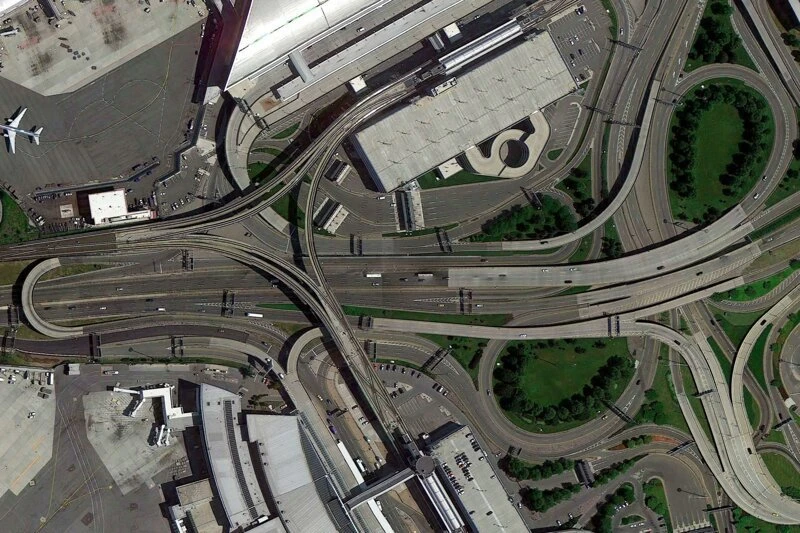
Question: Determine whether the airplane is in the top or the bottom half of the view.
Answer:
top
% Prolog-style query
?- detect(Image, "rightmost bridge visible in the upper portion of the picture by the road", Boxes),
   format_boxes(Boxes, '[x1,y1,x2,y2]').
[741,0,791,78]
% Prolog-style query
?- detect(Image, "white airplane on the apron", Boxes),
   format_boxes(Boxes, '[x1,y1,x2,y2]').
[0,107,38,153]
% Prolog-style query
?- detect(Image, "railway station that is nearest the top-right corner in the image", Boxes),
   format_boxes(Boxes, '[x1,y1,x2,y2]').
[434,17,522,75]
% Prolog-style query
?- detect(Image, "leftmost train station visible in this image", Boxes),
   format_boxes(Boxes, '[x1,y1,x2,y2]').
[420,468,468,533]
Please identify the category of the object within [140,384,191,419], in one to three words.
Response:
building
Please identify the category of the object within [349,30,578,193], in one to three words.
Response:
building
